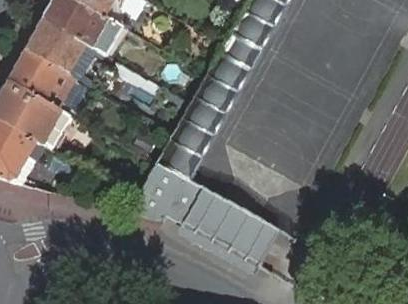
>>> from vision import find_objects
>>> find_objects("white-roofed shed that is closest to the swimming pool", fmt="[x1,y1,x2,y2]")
[116,64,159,96]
